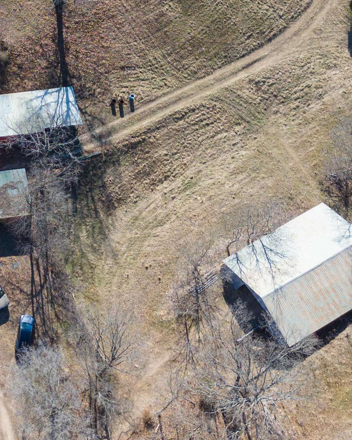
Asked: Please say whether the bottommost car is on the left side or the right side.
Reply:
left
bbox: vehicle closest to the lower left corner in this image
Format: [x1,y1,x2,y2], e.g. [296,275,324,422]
[11,314,33,357]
